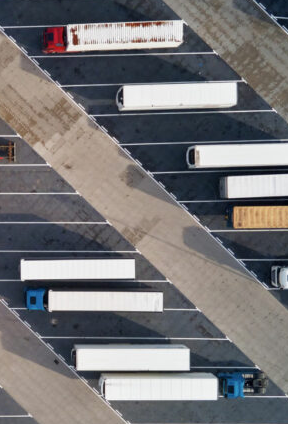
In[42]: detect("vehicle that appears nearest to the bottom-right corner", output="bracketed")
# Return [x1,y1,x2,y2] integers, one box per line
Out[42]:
[219,372,269,399]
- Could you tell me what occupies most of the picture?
paved ground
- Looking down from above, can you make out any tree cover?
No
